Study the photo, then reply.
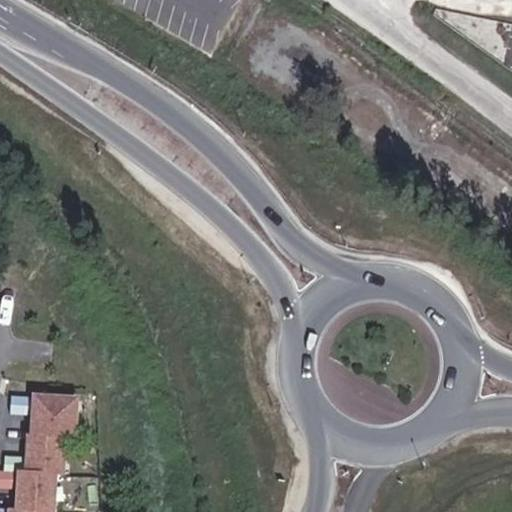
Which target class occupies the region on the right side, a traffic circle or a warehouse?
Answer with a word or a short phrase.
traffic circle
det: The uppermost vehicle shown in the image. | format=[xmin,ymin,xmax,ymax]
[263,206,284,225]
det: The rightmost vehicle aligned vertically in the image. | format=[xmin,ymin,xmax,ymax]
[444,366,456,390]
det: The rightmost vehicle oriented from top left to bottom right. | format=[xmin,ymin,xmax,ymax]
[426,308,446,326]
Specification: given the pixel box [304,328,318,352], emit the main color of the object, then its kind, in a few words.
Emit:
white vehicle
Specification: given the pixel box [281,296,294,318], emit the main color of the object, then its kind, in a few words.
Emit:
gray vehicle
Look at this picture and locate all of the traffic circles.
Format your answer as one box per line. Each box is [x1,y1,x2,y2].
[287,270,472,456]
